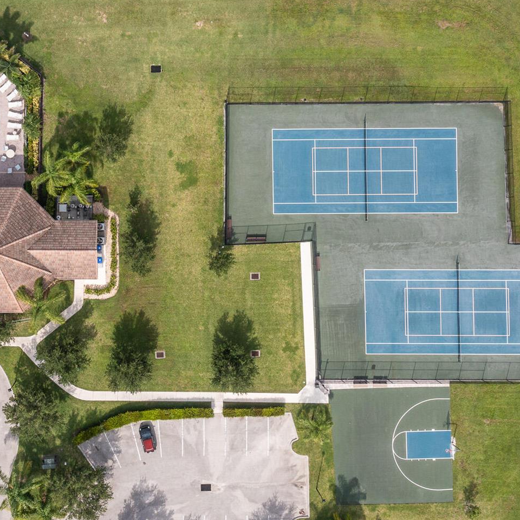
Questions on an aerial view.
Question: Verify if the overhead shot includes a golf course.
No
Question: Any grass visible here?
Yes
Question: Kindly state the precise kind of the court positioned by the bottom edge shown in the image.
basketball court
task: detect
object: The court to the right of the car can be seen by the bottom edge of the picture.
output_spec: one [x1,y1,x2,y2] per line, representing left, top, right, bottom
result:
[330,386,453,505]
